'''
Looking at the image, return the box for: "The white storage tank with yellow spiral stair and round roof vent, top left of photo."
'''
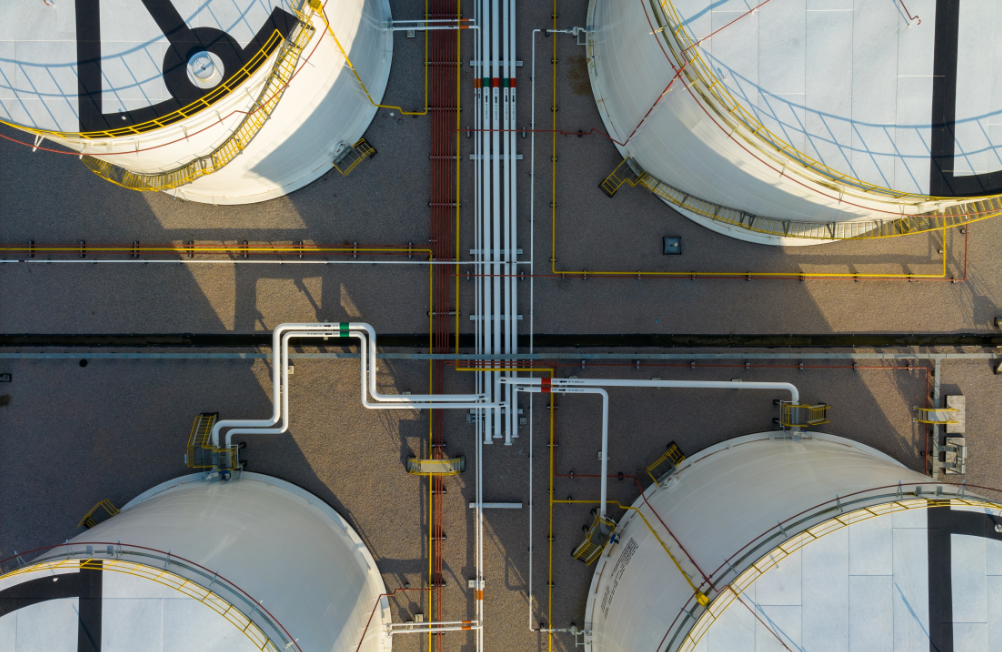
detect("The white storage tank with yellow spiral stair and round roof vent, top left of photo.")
[0,0,392,205]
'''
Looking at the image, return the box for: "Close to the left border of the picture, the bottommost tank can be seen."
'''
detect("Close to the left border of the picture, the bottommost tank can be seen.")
[0,472,392,652]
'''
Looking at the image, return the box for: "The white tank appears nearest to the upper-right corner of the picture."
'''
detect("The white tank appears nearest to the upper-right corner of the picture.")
[586,0,1002,246]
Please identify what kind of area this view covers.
industrial area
